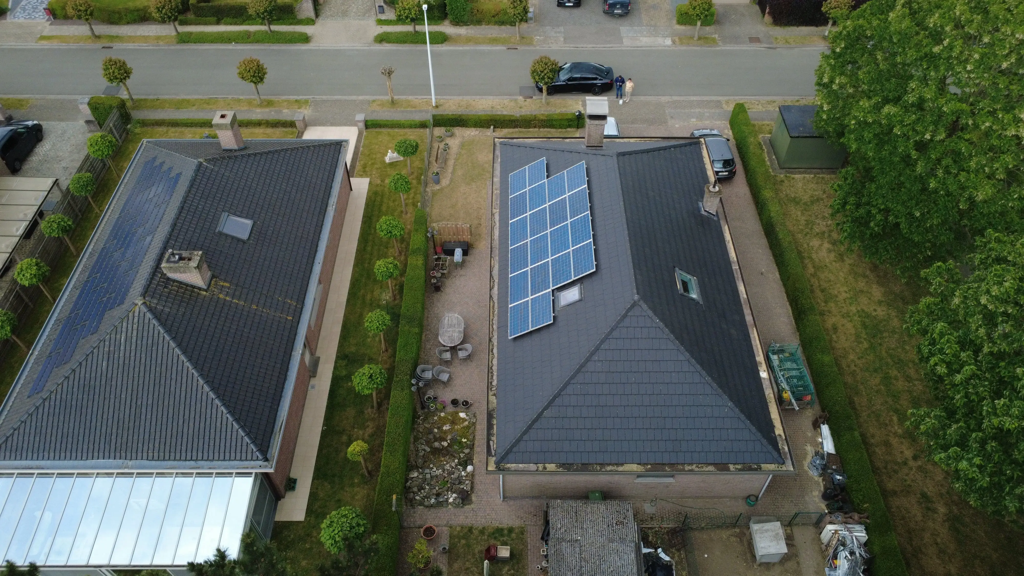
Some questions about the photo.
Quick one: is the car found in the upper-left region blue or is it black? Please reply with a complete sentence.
From above, the car found in the upper-left region appears black.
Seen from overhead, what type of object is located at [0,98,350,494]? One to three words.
house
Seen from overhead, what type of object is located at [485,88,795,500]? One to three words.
house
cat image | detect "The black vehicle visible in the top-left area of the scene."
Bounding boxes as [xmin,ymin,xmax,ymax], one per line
[0,124,42,173]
